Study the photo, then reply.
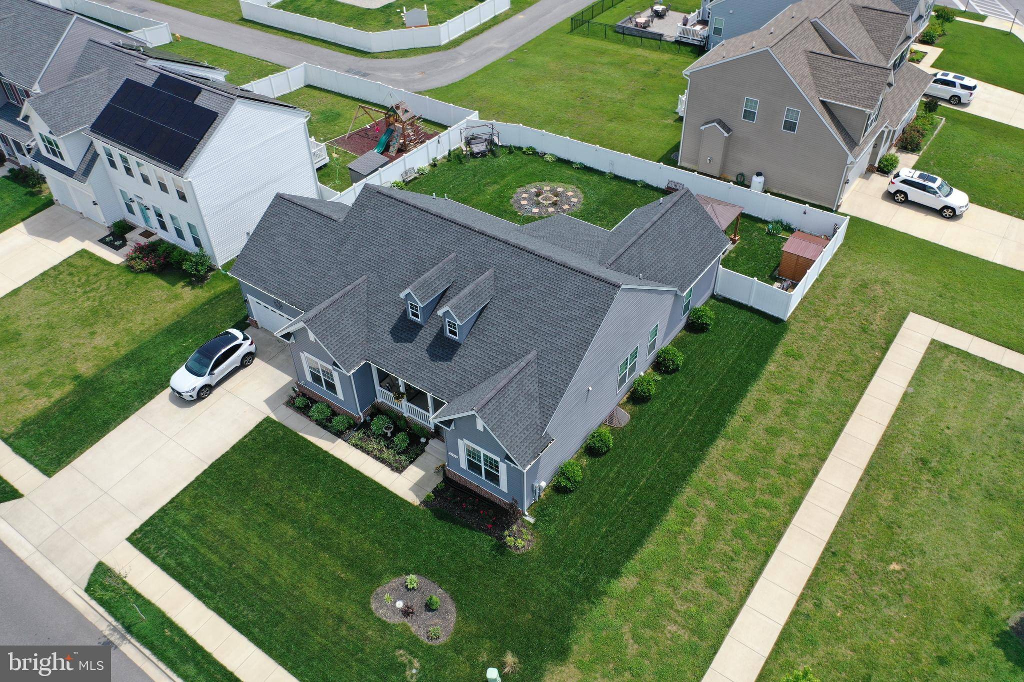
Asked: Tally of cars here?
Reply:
three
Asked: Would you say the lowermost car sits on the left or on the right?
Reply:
left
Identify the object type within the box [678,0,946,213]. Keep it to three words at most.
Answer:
house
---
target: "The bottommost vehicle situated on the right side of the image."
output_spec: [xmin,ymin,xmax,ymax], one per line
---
[882,170,974,224]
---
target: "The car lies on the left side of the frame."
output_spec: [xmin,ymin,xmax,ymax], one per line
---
[170,331,265,406]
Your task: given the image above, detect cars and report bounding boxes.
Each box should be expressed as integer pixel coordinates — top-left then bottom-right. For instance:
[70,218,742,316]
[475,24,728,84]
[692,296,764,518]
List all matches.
[170,331,265,406]
[882,170,974,224]
[925,68,983,103]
